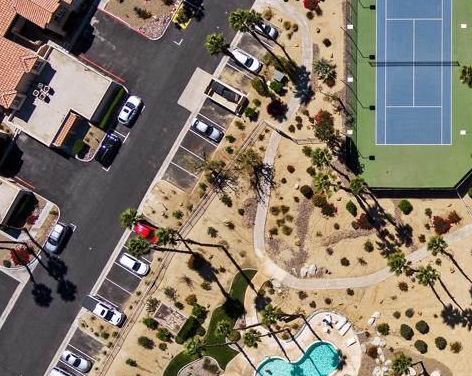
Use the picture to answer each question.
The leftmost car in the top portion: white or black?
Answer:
black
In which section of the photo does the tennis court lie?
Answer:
top right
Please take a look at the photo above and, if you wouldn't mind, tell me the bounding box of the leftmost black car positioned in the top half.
[96,132,122,166]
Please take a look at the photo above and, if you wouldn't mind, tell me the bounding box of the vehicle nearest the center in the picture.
[191,118,225,144]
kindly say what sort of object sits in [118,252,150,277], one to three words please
car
